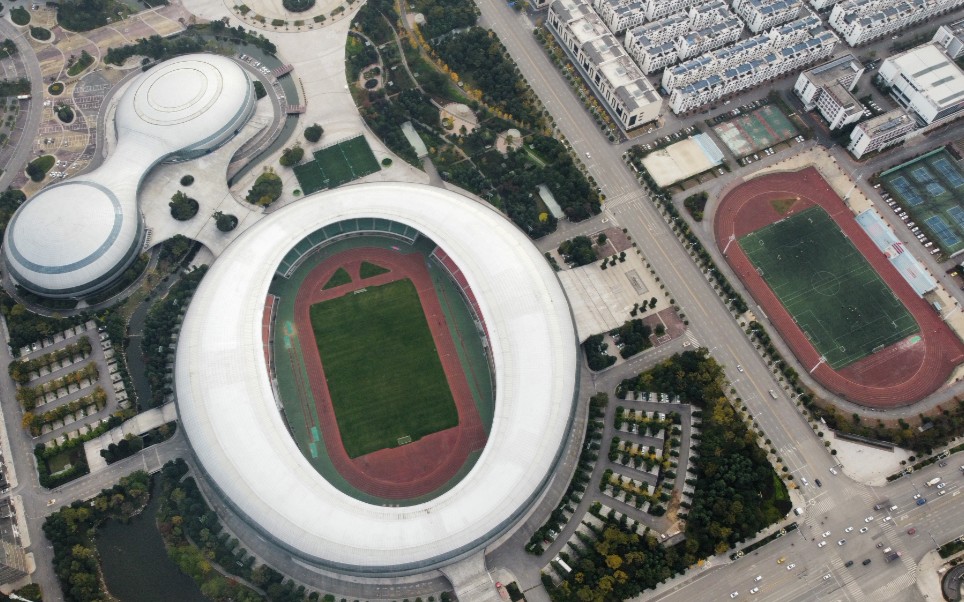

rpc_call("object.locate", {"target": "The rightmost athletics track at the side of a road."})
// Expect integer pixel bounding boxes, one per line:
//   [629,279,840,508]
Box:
[715,165,964,408]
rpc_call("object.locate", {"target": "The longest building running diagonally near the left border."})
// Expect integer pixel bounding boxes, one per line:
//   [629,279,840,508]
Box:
[2,50,258,298]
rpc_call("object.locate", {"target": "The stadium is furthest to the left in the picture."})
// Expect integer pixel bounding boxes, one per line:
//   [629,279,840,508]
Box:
[171,177,586,579]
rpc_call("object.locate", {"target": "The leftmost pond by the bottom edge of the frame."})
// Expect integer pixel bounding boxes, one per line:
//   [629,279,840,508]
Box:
[97,471,199,602]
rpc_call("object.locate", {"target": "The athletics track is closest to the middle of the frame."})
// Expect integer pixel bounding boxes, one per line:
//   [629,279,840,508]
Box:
[283,236,489,501]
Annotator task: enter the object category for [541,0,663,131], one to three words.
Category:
building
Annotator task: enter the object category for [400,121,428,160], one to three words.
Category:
building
